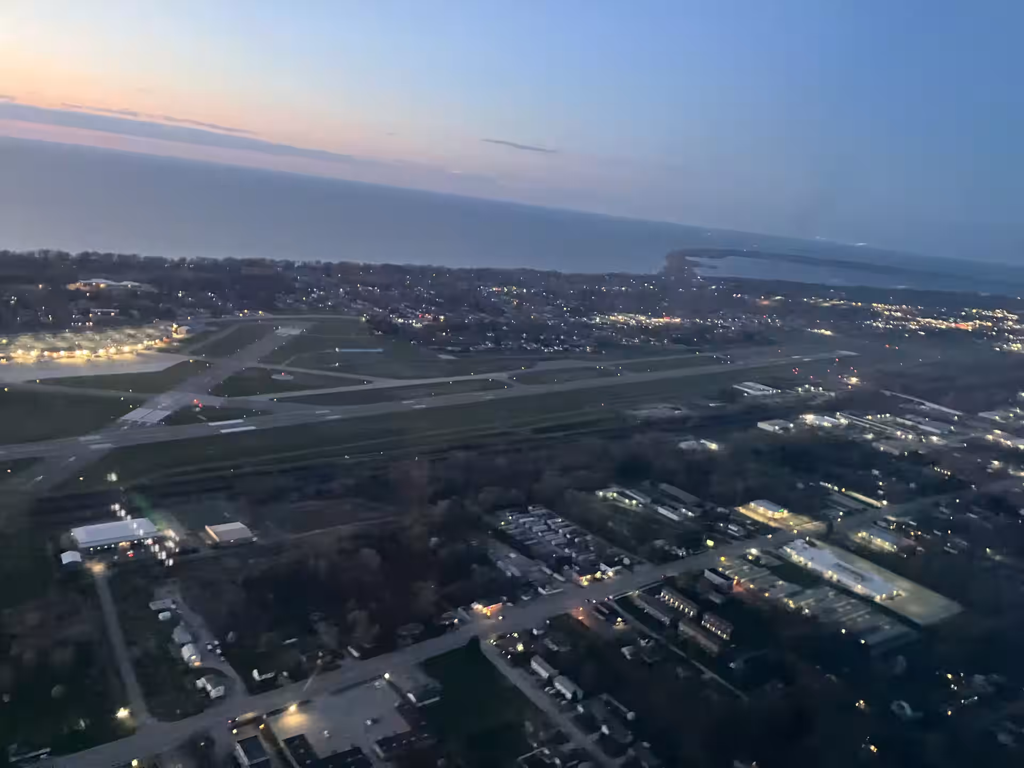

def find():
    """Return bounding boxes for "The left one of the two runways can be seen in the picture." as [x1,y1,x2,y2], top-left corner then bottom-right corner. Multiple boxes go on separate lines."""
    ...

[0,328,304,503]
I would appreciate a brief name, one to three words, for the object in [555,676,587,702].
house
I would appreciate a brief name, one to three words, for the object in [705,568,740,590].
building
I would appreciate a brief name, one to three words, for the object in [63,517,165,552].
hangar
